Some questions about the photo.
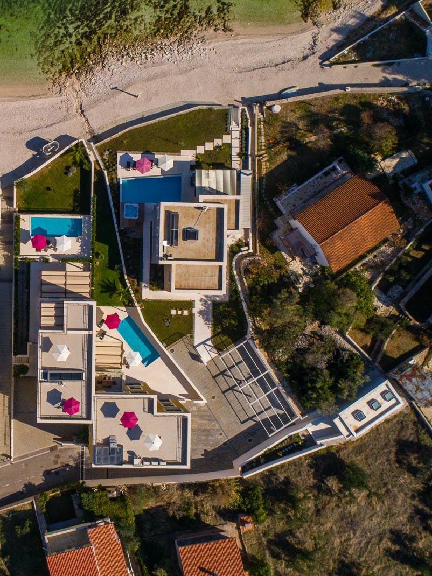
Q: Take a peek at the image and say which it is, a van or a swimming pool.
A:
swimming pool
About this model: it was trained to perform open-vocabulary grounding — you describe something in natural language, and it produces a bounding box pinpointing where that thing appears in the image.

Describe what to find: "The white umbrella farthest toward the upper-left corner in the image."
[157,153,173,172]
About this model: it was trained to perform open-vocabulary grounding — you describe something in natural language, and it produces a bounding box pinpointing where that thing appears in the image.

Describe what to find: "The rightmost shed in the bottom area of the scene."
[395,366,432,407]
